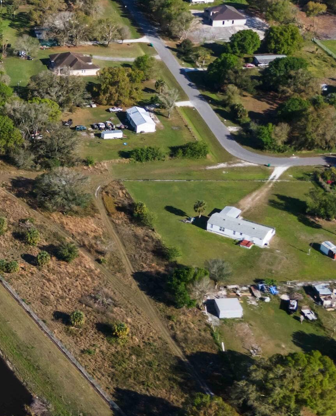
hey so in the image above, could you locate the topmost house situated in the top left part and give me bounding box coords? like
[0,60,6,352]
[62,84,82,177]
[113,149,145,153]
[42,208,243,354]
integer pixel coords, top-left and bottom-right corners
[51,52,100,75]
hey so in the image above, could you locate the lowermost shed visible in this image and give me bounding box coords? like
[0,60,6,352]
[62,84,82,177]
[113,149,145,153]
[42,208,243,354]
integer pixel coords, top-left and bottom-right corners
[212,292,244,318]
